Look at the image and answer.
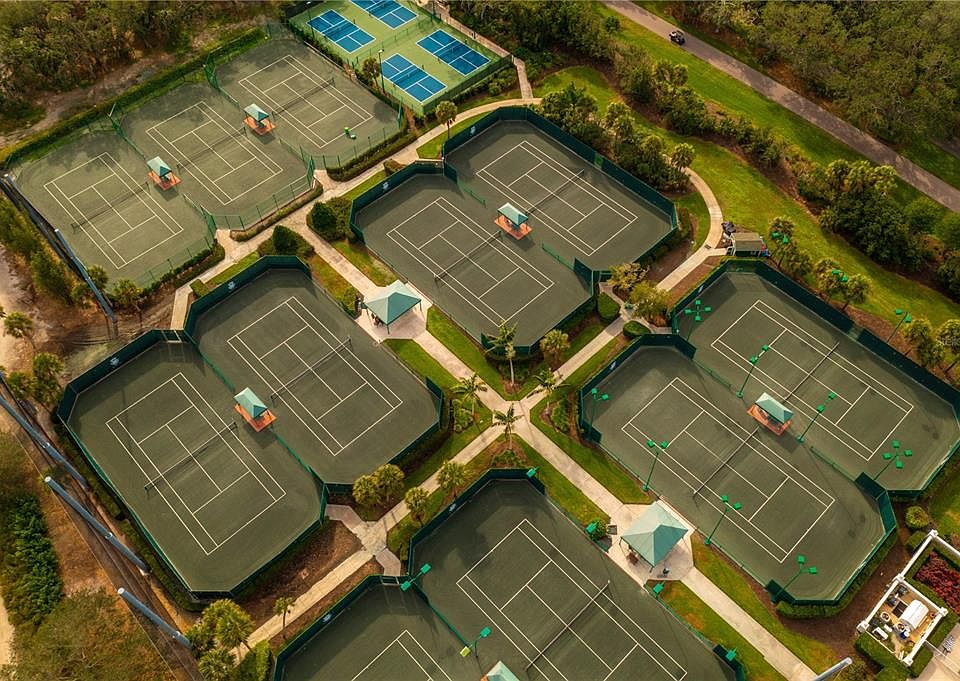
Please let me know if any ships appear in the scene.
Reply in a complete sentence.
No, there appears to be no ship in this shot.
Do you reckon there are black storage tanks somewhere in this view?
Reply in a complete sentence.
No, the frame has no black storage tank in it.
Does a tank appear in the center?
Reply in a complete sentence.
No, I can find no tank in the center.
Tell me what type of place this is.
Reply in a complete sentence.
The area seen from above is a sports ground.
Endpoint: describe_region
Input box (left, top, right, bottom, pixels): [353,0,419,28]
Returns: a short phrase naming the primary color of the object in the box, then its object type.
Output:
blue sports court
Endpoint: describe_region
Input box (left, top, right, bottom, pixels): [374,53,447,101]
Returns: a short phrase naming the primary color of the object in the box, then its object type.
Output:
blue sports court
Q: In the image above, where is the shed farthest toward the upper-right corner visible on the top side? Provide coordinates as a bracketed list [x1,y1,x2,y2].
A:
[731,236,765,259]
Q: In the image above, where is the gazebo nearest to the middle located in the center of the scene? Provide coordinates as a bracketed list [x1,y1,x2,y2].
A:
[365,280,422,335]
